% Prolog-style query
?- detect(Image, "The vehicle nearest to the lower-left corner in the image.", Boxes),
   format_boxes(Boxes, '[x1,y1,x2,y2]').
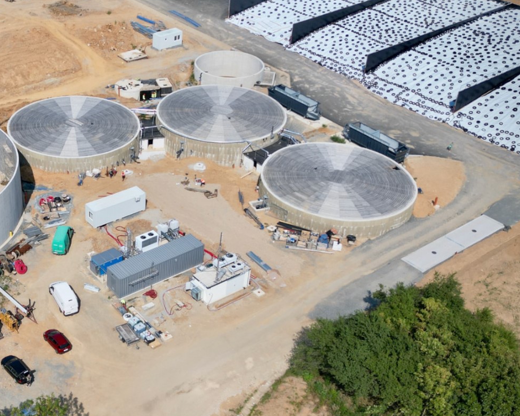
[0,352,34,383]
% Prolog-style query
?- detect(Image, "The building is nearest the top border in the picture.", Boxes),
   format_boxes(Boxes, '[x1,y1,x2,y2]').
[153,26,183,49]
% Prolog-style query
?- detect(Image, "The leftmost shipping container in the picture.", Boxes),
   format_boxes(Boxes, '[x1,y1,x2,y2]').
[86,185,146,227]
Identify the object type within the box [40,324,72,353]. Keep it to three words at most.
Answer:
car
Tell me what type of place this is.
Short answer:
industrial area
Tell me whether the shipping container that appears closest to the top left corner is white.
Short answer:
Yes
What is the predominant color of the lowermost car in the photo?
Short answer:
black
